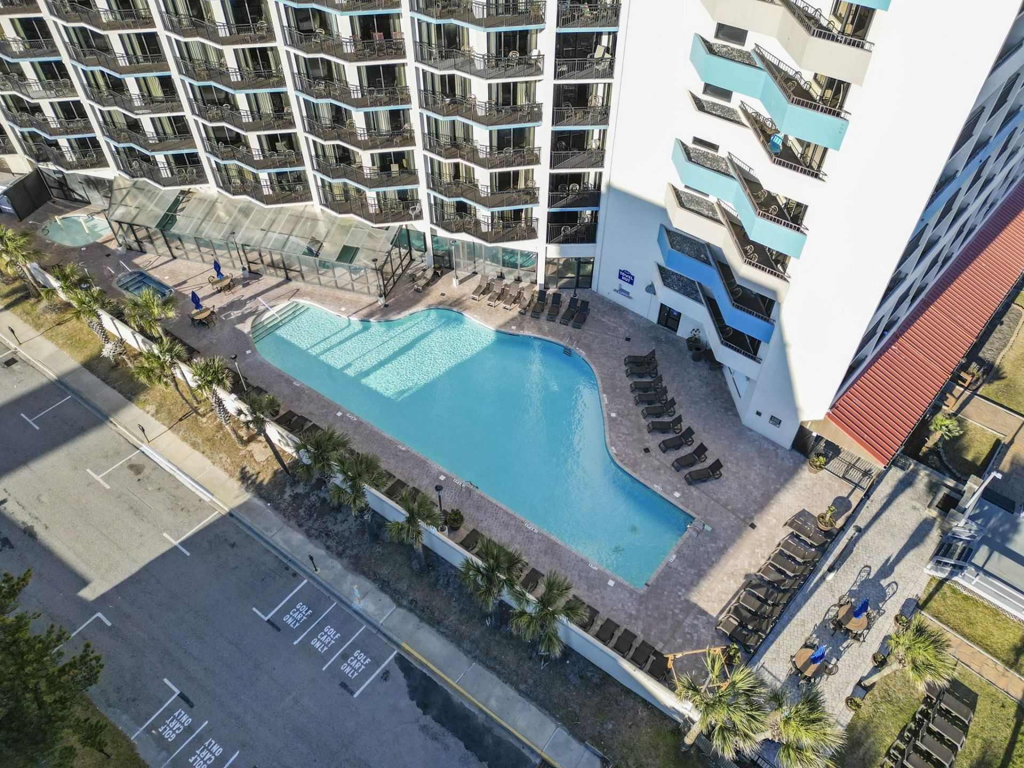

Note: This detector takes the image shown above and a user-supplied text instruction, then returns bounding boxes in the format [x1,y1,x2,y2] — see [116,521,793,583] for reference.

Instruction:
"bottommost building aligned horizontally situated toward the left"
[111,181,414,299]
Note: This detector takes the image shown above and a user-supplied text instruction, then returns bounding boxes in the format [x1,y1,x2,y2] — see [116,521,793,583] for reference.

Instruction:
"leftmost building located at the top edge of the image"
[0,0,627,291]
